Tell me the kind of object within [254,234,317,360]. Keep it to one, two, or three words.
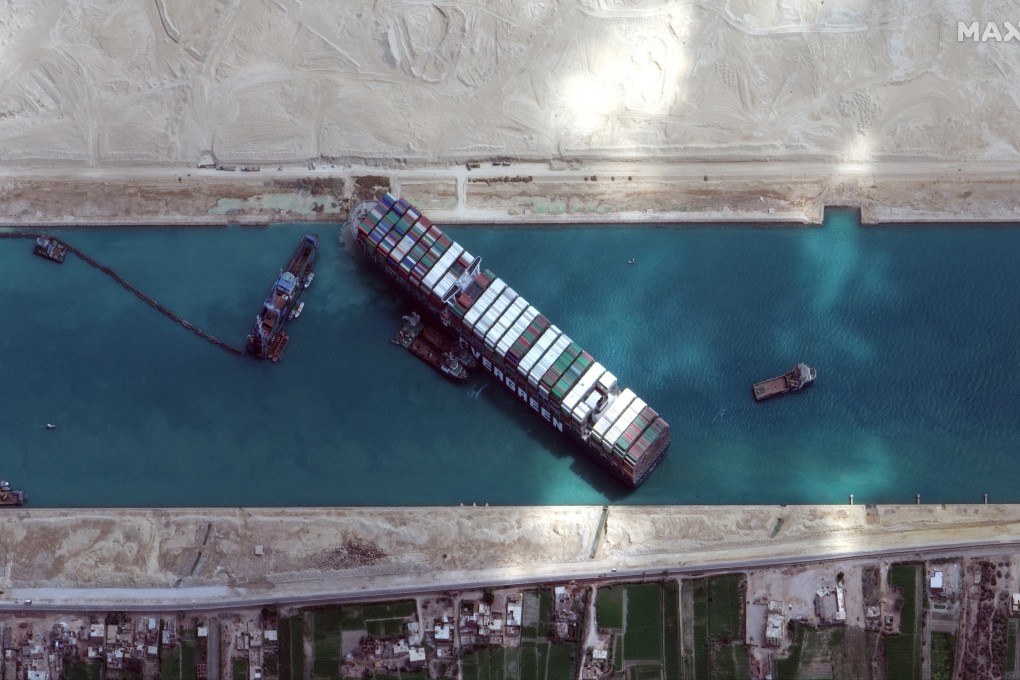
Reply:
ship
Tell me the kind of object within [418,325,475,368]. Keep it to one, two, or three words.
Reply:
vessel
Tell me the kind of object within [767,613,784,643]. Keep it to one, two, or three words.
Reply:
house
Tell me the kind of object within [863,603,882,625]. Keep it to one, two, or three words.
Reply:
house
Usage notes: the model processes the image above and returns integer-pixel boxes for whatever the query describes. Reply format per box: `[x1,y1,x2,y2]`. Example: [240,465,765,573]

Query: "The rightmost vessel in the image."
[753,365,815,401]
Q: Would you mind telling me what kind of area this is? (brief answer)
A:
port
